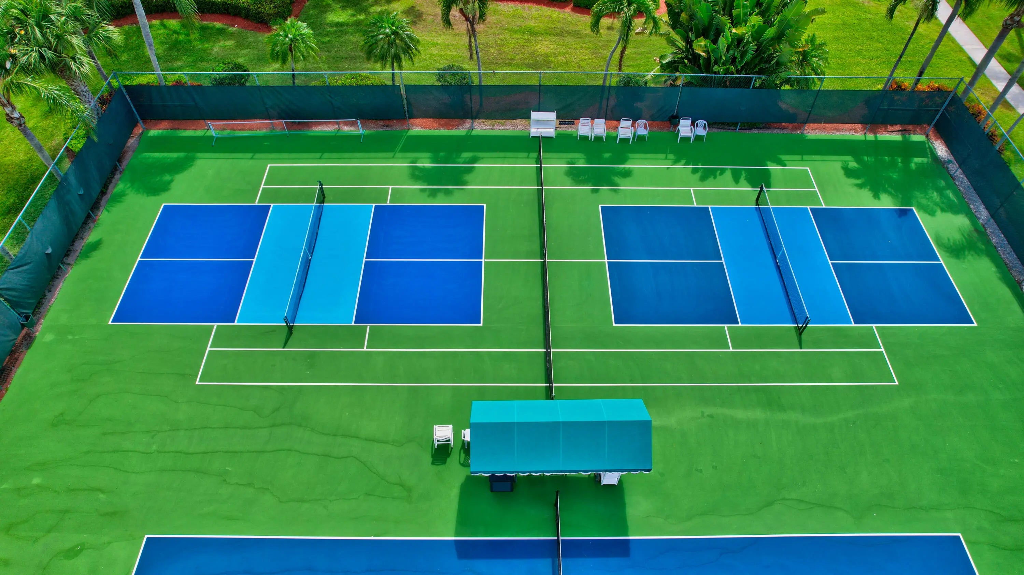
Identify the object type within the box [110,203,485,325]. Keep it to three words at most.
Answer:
sports court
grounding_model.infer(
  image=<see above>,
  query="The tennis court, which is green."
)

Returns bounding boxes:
[197,165,898,385]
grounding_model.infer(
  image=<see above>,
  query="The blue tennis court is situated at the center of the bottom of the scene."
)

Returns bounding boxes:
[134,535,978,575]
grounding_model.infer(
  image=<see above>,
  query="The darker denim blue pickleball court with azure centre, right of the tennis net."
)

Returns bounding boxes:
[598,205,978,327]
